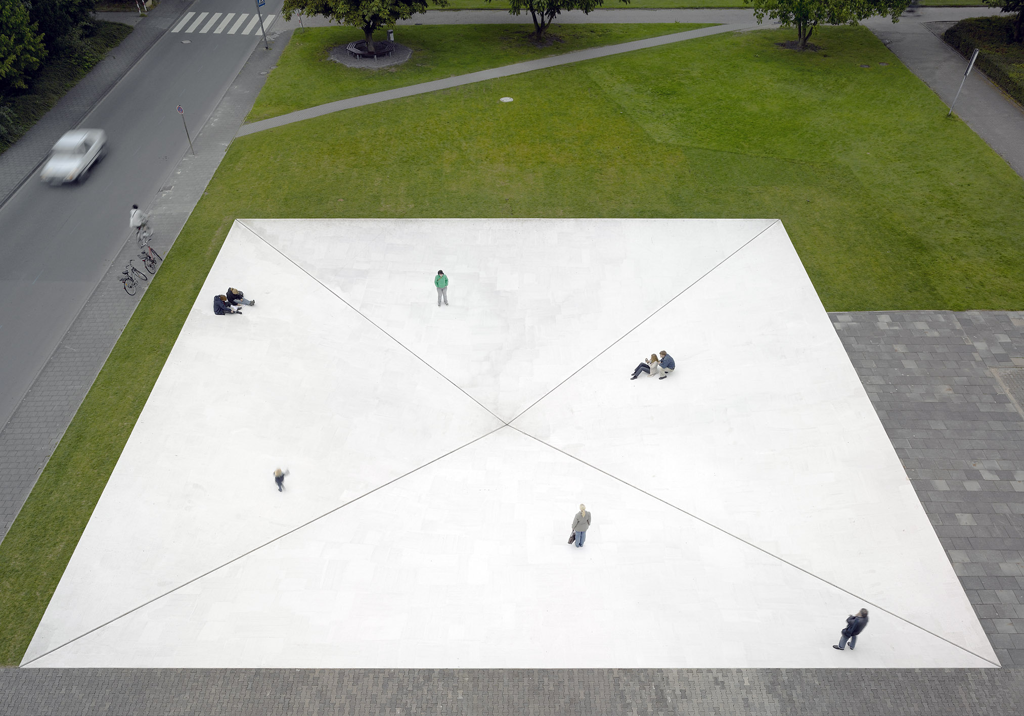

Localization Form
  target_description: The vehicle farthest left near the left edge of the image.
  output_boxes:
[38,132,106,184]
